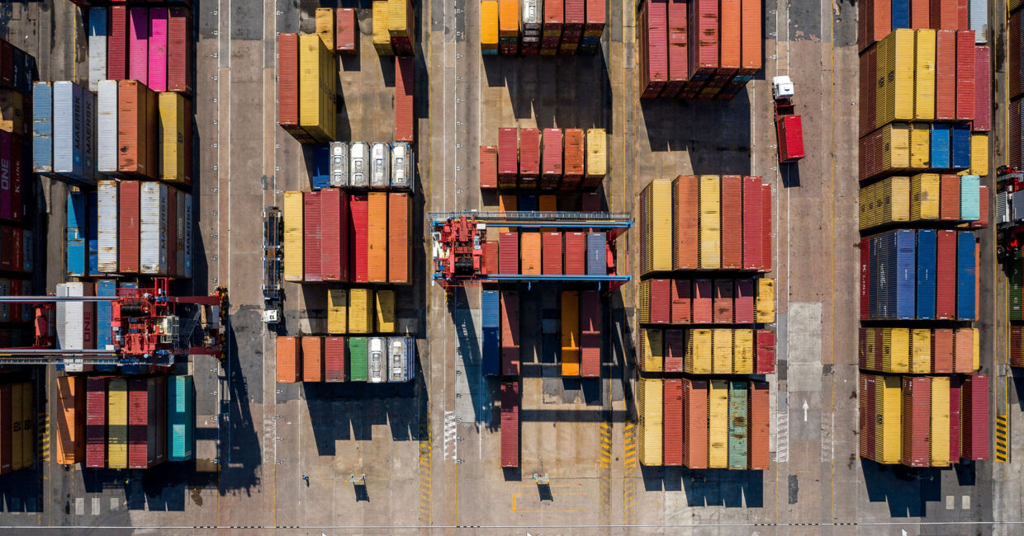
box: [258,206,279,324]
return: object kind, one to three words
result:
truck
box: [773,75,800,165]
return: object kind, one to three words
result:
truck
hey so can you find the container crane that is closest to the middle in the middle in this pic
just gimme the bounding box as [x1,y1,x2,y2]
[424,210,636,301]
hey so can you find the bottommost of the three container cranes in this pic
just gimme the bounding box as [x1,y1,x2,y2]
[0,278,227,371]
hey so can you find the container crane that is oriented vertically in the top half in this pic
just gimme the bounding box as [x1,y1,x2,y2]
[995,167,1024,252]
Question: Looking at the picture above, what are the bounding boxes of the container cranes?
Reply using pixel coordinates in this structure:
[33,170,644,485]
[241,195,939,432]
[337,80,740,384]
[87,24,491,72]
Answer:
[424,210,636,301]
[0,278,227,371]
[995,167,1024,252]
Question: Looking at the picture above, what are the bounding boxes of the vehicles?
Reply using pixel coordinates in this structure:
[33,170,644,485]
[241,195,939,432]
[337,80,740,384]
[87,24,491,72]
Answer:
[773,75,800,165]
[258,206,279,324]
